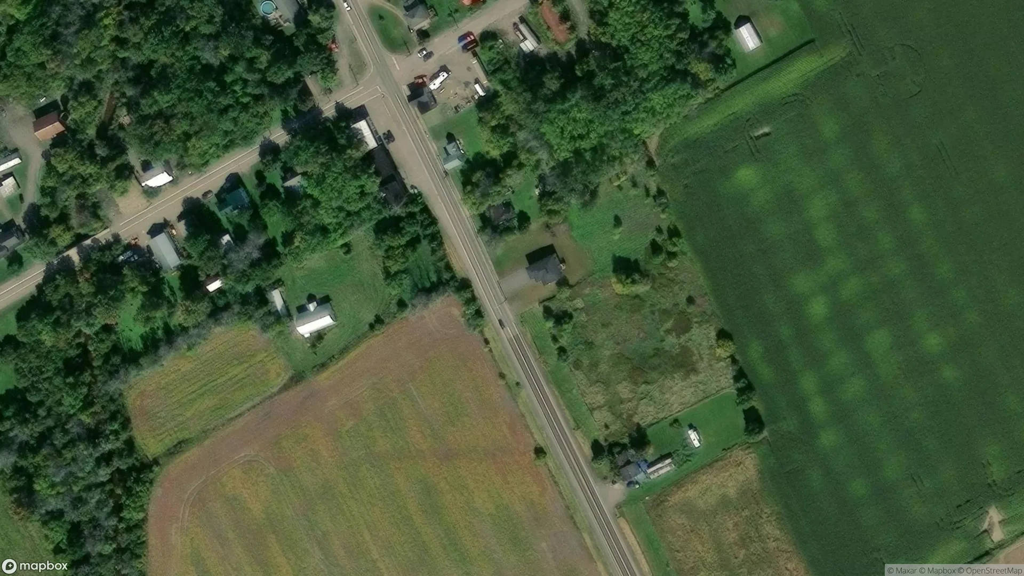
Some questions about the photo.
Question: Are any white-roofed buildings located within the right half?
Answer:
Yes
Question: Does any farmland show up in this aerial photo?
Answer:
Yes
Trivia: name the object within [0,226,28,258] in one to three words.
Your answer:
house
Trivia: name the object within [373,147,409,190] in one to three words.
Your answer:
building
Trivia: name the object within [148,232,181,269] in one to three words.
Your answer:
shed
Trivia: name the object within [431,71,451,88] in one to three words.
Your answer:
camper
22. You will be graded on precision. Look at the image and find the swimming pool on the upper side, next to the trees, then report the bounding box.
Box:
[261,1,276,16]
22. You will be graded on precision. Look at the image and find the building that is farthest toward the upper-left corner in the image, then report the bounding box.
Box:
[33,111,67,141]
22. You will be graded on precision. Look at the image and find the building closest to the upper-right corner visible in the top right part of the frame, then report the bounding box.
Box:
[736,23,761,52]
